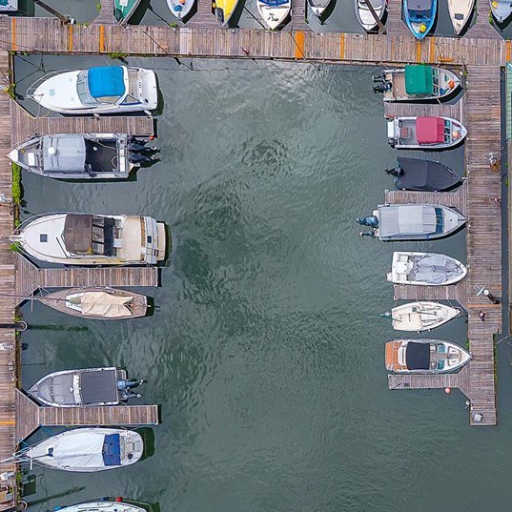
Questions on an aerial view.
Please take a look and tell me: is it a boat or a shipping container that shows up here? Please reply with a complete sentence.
The one in the frame is a boat.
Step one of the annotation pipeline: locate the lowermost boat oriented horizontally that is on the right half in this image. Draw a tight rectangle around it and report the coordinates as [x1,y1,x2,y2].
[386,339,471,376]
